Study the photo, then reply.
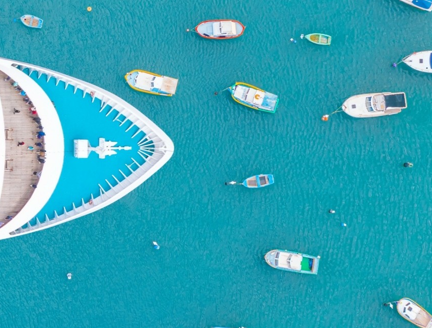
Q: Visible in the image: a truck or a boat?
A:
boat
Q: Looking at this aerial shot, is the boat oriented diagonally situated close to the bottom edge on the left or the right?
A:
right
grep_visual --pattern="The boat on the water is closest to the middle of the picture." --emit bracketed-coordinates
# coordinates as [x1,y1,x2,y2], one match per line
[233,173,275,188]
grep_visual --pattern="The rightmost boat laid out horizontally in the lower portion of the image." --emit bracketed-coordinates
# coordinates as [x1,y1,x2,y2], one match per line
[264,250,322,275]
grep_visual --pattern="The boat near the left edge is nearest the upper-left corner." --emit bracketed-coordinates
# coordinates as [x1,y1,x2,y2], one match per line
[16,14,44,28]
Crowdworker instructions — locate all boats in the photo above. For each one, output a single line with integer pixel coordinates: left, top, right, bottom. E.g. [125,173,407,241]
[233,173,275,188]
[391,299,432,328]
[264,250,322,275]
[190,16,248,40]
[16,14,44,28]
[328,89,408,119]
[224,81,280,114]
[396,51,432,73]
[306,33,332,45]
[395,0,432,14]
[124,70,179,99]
